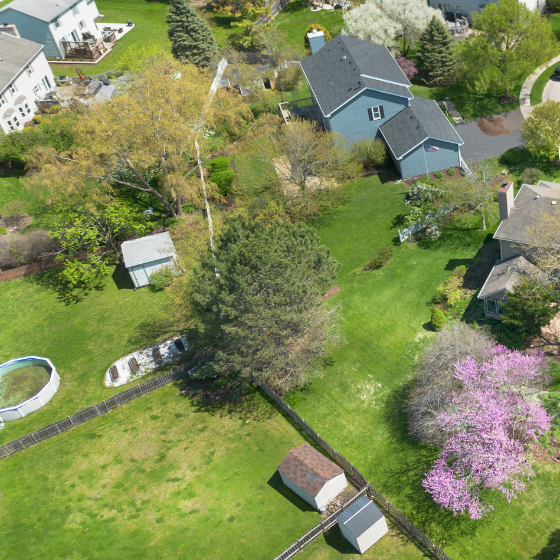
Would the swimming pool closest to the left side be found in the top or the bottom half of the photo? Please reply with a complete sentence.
It is in the bottom half that the swimming pool closest to the left side appears.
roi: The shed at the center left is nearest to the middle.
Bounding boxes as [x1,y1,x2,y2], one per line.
[116,232,175,289]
